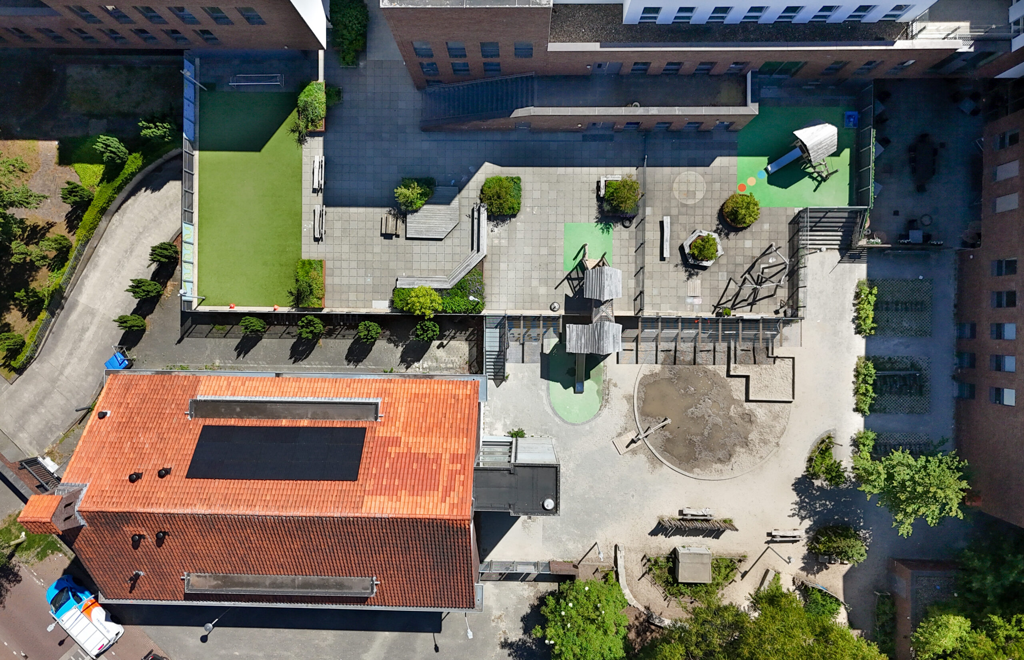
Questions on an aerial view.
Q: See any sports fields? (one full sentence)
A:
Yes, looking at the shot, I can spot a sports field.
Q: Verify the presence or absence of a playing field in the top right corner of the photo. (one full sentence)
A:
No, there is no playing field in the top right corner of the photo.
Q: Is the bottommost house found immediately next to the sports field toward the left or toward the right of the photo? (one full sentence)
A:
You can find the bottommost house found immediately next to the sports field on the left side of the picture.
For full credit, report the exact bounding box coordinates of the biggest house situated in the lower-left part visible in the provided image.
[10,367,487,615]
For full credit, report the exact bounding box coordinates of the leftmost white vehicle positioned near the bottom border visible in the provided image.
[50,576,129,660]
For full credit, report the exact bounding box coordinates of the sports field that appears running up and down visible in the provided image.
[198,92,303,307]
